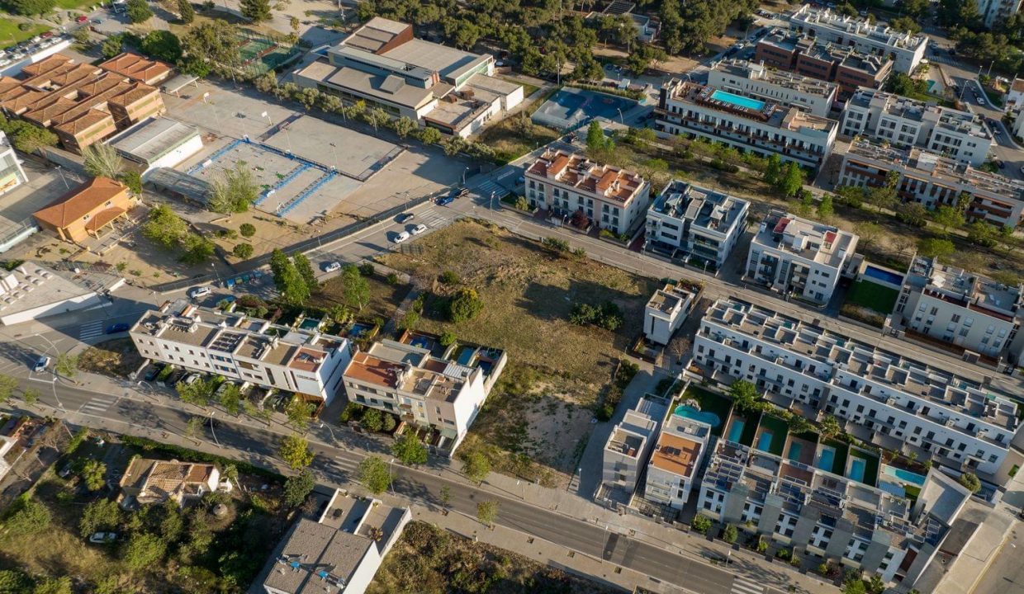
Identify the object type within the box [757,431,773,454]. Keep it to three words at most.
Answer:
swimming pool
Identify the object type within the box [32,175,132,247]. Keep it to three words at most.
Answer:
house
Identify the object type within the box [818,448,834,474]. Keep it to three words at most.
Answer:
swimming pool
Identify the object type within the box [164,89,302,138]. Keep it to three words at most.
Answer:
sports court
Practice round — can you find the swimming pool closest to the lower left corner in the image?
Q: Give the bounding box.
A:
[298,317,318,331]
